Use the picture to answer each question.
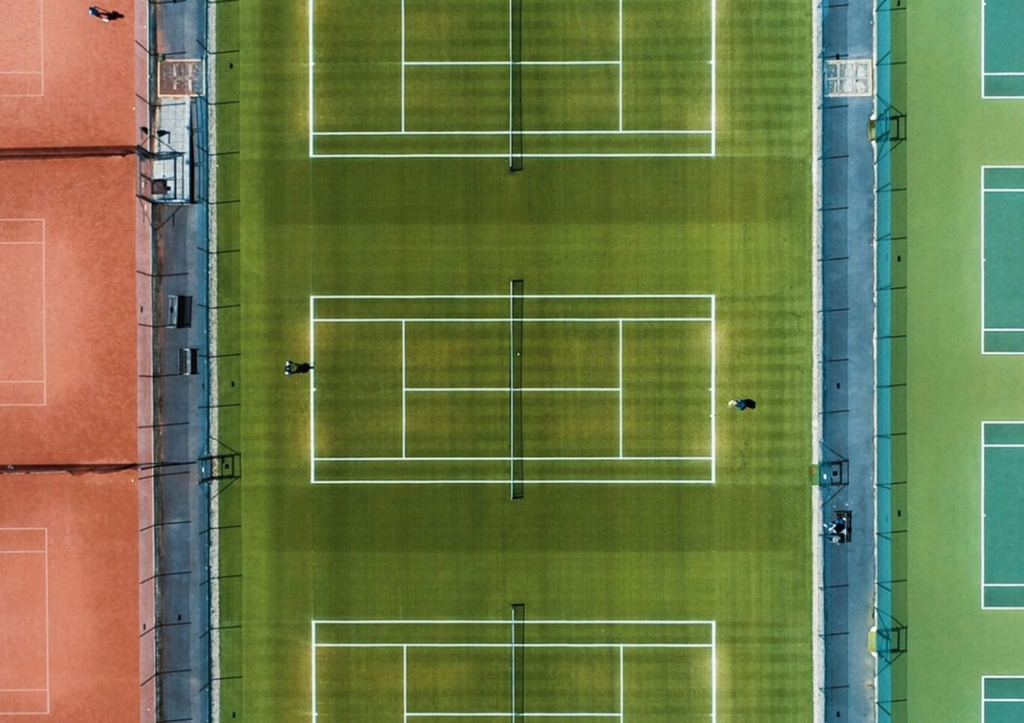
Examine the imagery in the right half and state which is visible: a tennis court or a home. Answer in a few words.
tennis court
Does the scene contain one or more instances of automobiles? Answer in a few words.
No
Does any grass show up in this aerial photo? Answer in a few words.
Yes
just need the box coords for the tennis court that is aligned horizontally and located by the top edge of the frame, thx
[309,0,715,158]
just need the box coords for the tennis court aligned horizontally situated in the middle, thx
[310,295,715,484]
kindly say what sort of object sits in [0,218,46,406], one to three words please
tennis court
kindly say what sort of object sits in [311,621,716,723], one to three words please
tennis court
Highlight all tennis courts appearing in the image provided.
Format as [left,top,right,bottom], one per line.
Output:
[981,165,1024,355]
[0,0,43,96]
[309,0,715,158]
[310,295,715,484]
[981,676,1024,723]
[981,421,1024,610]
[0,218,46,406]
[311,621,716,723]
[981,0,1024,98]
